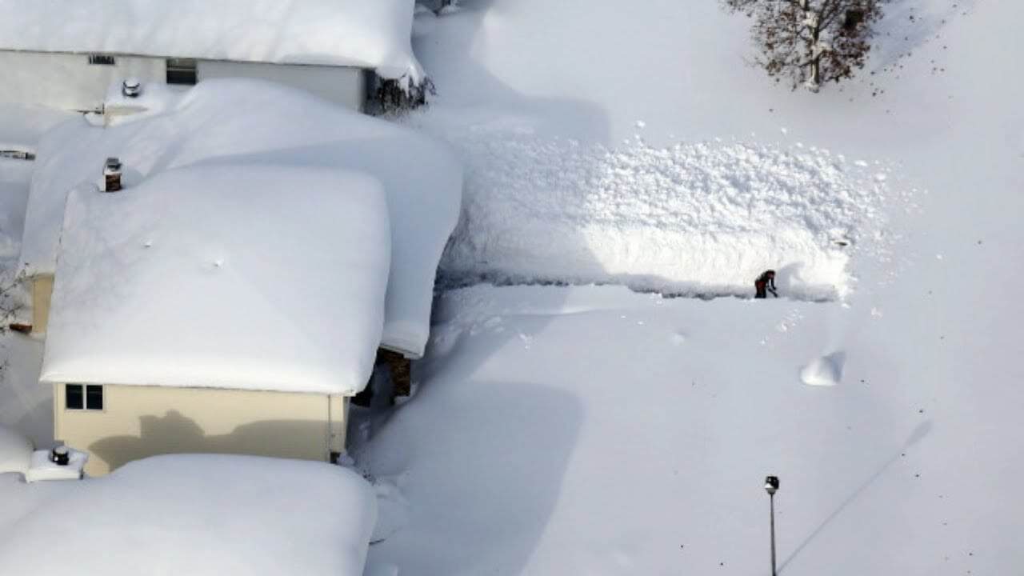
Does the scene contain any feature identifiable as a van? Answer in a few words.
No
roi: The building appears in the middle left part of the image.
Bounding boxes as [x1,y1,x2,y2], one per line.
[12,79,468,473]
